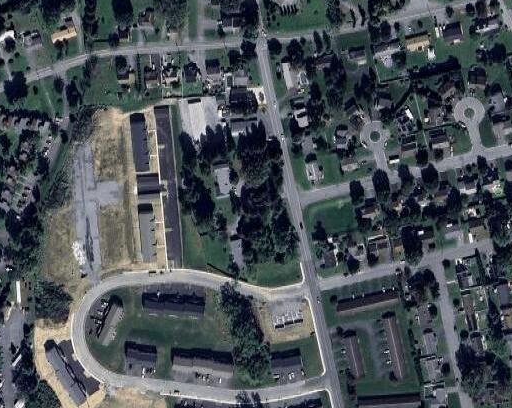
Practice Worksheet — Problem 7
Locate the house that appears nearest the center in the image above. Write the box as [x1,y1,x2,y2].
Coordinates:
[214,167,231,195]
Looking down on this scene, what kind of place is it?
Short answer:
residential area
